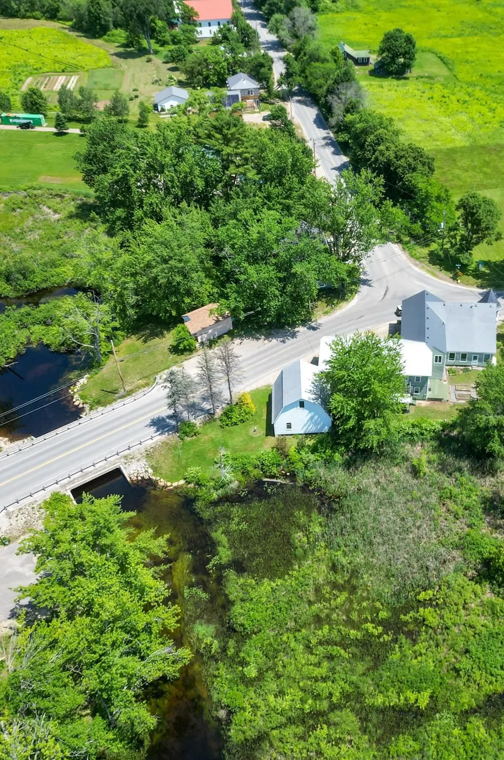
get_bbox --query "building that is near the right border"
[315,284,498,405]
